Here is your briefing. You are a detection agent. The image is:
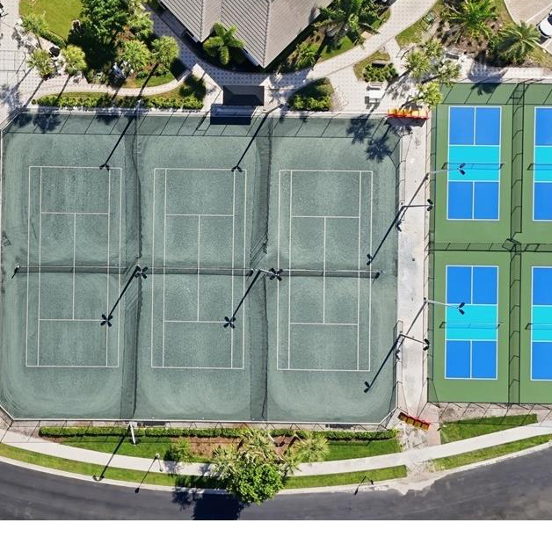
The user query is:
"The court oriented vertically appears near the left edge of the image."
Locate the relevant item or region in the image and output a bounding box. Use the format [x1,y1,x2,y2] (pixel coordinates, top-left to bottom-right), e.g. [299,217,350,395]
[0,115,136,421]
